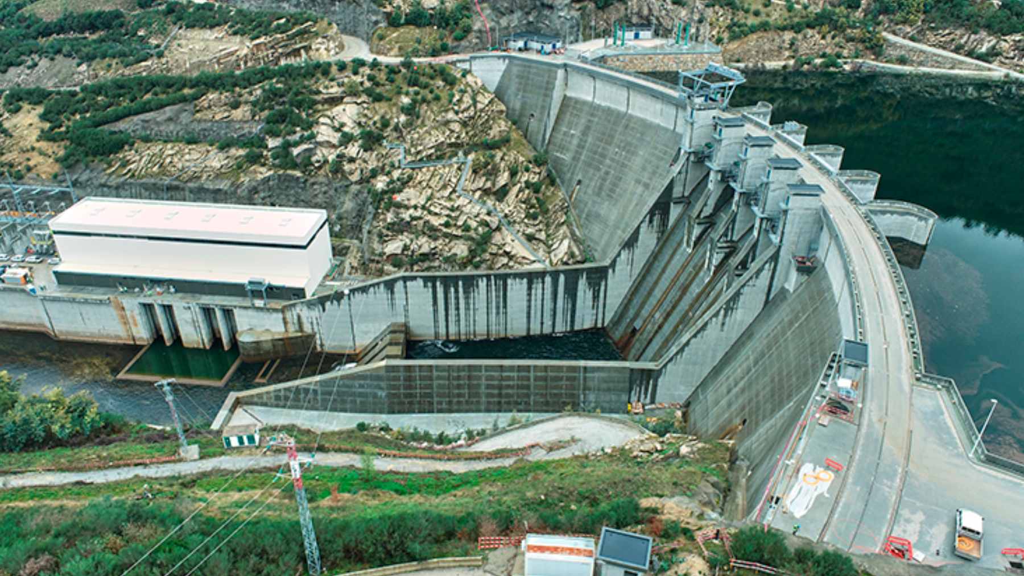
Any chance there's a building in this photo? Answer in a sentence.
Yes, the image includes a building.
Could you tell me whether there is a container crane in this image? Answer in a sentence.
Yes, a container crane is visible in the scene.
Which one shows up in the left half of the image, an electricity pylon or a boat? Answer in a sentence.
There is an electricity pylon in the left half of the image.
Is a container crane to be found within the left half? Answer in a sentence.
No, I can find no container crane within the left half.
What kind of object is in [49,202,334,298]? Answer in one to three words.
building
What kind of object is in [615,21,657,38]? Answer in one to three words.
shed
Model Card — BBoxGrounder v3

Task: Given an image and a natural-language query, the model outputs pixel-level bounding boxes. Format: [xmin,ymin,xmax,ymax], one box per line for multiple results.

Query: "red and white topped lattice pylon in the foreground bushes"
[270,441,322,576]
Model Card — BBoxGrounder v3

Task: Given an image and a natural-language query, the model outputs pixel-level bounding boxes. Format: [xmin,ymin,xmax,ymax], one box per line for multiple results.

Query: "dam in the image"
[452,47,1024,571]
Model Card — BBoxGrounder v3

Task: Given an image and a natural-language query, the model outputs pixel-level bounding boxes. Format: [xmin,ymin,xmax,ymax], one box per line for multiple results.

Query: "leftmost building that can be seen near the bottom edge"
[523,533,598,576]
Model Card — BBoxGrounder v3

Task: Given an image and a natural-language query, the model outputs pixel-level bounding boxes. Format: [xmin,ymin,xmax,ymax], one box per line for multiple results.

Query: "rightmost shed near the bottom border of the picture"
[599,524,656,576]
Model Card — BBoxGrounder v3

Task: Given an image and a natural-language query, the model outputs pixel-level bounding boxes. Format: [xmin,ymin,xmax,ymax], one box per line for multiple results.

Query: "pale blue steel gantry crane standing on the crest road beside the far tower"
[676,62,753,110]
